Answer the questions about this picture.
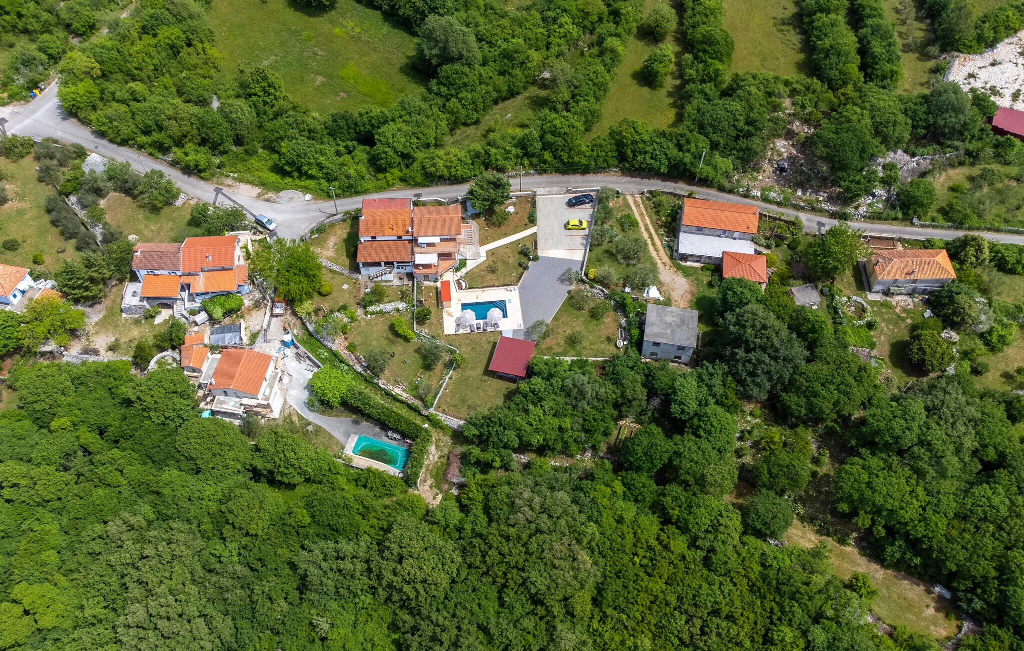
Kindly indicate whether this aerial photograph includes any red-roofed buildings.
Yes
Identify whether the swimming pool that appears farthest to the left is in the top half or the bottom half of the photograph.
bottom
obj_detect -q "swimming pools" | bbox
[343,433,414,479]
[441,270,523,335]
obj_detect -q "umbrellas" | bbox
[487,309,503,331]
[459,311,476,333]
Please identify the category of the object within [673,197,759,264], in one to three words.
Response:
house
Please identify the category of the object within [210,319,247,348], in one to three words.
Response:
shed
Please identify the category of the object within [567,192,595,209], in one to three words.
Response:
car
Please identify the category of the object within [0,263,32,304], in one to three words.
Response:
house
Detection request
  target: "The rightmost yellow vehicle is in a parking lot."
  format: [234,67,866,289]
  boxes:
[565,218,588,231]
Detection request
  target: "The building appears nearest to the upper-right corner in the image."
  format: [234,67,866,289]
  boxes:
[988,107,1024,147]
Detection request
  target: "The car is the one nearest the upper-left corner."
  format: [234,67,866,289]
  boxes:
[251,212,277,233]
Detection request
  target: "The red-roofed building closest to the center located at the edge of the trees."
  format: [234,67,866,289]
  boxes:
[489,336,536,382]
